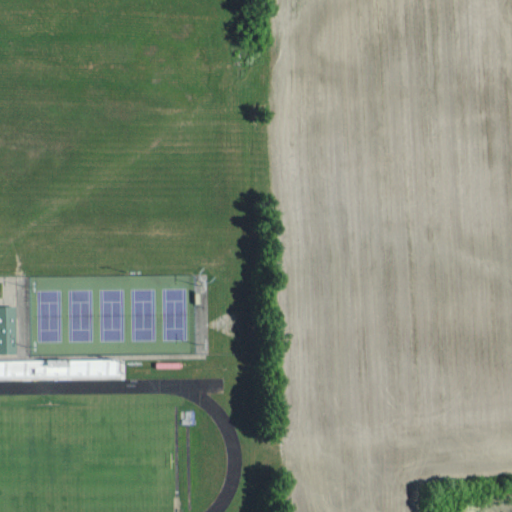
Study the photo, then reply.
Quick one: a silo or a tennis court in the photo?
tennis court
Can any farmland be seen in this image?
Yes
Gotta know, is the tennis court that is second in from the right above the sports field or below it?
above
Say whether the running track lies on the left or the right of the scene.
left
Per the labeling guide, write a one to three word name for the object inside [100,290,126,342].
tennis court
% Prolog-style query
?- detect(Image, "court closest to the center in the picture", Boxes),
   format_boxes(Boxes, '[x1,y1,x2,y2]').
[162,289,189,342]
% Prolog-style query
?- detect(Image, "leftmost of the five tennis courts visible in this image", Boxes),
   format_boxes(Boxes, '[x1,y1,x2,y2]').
[38,290,64,342]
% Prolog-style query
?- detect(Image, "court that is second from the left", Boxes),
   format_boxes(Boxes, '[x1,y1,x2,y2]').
[68,290,93,342]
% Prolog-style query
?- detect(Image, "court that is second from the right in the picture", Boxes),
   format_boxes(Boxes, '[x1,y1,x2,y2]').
[130,290,156,342]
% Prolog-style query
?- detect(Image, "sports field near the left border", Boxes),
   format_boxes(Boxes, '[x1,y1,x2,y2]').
[0,394,176,512]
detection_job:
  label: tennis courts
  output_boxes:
[100,290,126,342]
[130,290,156,342]
[162,289,189,342]
[68,290,93,342]
[38,290,64,342]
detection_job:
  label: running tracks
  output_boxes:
[0,378,242,512]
